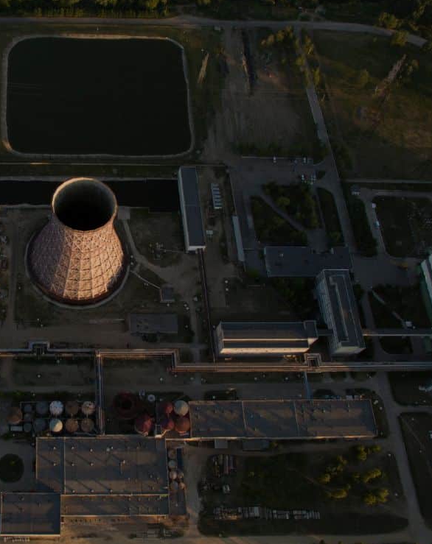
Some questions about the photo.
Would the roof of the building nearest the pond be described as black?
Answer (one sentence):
Yes, the roof of the building nearest the pond appears black.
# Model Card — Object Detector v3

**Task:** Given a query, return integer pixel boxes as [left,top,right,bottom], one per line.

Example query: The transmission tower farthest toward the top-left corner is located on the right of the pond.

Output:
[193,52,206,87]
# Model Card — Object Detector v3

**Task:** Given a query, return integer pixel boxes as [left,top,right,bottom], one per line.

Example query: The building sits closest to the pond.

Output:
[178,167,205,255]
